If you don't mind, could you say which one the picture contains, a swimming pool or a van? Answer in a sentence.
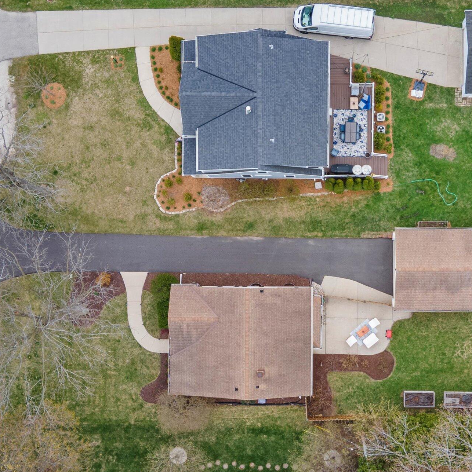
Visible in the photo is a van.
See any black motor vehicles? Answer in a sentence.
No, the frame has no black motor vehicle in it.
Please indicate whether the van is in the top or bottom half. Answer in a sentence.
The top half of the photo is where the van is.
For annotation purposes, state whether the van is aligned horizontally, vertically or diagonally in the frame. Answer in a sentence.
What the image shows is the van lying horizontally.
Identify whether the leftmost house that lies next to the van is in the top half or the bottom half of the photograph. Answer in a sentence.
The leftmost house that lies next to the van sits in the top half of the picture.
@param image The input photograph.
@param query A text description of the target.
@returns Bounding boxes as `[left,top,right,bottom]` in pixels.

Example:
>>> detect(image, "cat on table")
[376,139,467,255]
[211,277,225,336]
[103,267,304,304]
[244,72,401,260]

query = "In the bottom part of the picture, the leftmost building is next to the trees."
[167,270,324,400]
